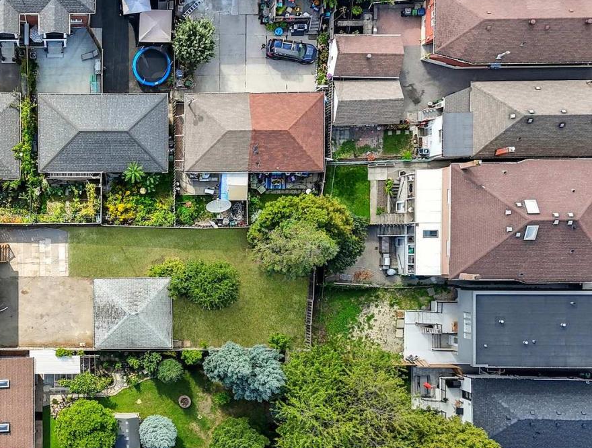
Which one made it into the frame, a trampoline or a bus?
trampoline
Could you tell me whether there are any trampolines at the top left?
Yes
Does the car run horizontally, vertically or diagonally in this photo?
horizontally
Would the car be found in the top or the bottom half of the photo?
top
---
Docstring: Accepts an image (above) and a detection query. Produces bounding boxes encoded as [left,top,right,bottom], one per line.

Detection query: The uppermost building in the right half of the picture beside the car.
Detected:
[324,34,404,83]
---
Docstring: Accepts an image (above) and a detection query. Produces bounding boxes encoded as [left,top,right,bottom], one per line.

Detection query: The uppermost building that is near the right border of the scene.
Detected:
[420,0,592,72]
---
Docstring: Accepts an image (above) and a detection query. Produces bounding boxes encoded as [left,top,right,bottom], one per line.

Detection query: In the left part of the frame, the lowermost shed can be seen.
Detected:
[115,410,140,448]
